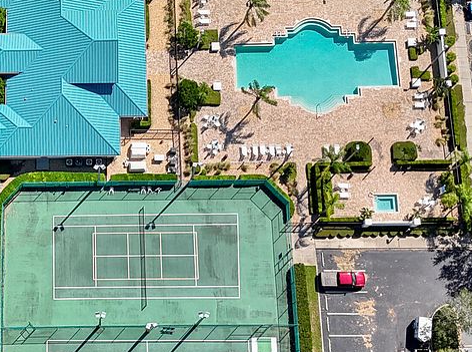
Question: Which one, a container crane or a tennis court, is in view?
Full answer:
The one in the frame is a tennis court.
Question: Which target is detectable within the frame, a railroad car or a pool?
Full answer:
The one in the frame is a pool.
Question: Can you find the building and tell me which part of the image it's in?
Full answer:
The building sits in the top left section of the image.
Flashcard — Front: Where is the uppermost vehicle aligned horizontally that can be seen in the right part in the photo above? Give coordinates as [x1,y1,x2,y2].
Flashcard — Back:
[318,270,365,289]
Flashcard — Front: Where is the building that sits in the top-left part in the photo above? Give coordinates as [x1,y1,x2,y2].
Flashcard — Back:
[0,0,148,158]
